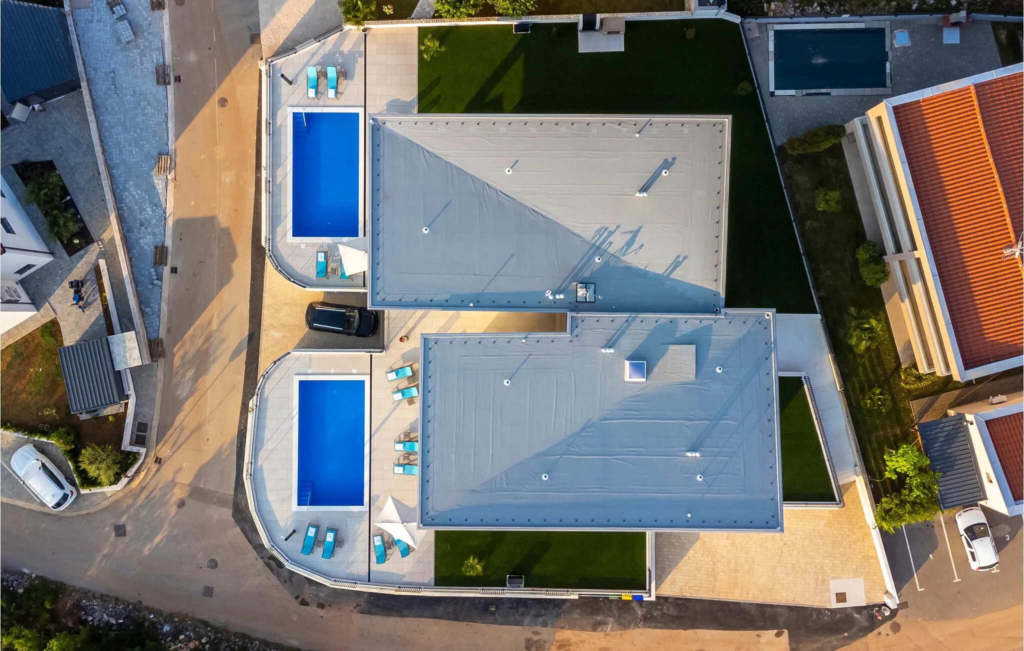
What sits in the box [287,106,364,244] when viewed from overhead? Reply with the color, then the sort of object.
blue swimming pool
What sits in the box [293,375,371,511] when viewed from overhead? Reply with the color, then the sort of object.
blue swimming pool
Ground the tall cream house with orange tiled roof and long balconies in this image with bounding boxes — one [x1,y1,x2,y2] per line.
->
[822,61,1024,381]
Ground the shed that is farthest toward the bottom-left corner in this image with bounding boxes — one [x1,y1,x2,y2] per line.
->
[56,337,138,414]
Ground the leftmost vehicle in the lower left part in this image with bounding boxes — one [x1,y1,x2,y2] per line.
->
[8,442,74,515]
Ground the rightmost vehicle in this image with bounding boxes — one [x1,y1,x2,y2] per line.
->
[957,509,1004,575]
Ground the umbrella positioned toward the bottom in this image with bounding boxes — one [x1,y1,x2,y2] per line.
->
[373,495,419,551]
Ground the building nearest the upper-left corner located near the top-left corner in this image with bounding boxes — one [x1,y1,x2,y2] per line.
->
[0,0,83,103]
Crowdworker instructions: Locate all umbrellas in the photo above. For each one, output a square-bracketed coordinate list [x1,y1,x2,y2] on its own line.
[338,239,368,276]
[373,495,419,551]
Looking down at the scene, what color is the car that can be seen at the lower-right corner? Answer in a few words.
white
